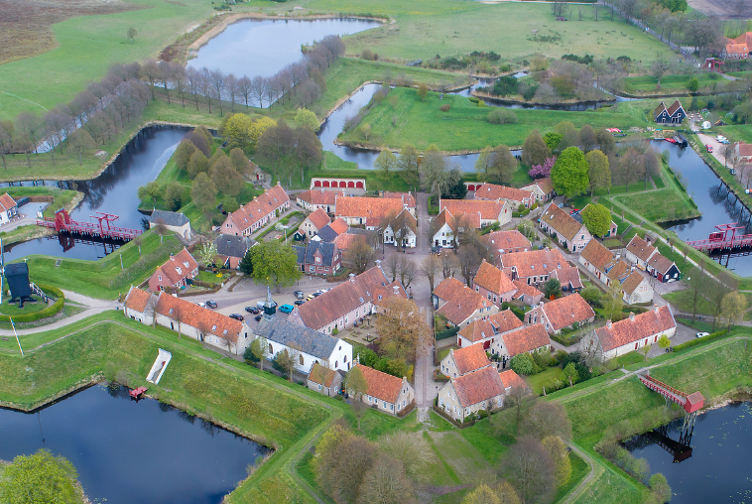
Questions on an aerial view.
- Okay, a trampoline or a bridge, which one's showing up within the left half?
bridge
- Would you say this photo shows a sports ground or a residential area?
residential area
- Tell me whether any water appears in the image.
Yes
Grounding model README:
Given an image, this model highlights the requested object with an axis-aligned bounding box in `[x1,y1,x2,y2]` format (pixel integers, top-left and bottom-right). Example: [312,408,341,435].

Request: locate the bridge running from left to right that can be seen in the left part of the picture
[35,205,143,242]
